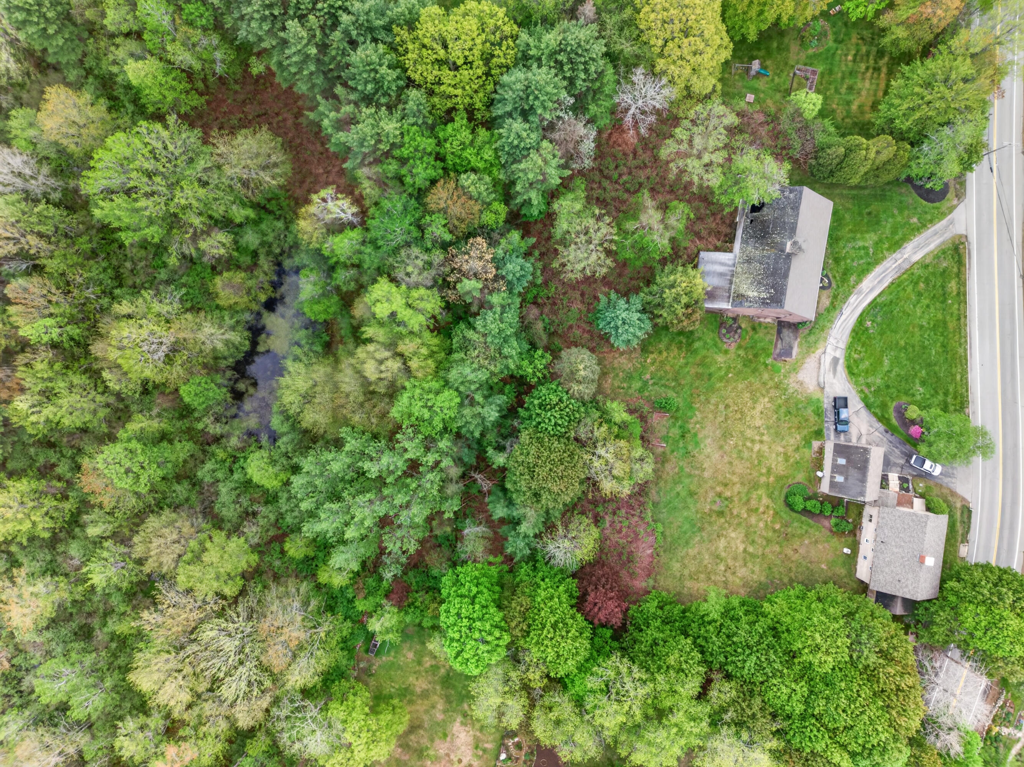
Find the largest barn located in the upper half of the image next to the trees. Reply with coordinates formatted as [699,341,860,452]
[722,186,834,322]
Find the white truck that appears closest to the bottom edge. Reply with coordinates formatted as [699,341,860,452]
[908,453,944,476]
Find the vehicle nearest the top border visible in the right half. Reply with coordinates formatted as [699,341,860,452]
[834,396,853,433]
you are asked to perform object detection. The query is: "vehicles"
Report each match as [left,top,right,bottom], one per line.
[908,453,944,476]
[834,396,853,433]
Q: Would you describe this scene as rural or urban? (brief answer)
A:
rural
